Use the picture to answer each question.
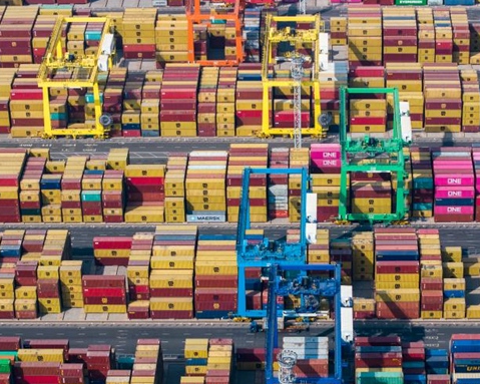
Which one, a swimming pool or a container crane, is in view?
container crane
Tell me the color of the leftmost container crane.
yellow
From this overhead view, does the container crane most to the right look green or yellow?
green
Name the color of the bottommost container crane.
blue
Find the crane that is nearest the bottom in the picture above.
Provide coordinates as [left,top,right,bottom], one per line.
[261,262,356,384]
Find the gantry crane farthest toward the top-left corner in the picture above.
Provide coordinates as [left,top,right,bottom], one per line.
[34,20,118,138]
